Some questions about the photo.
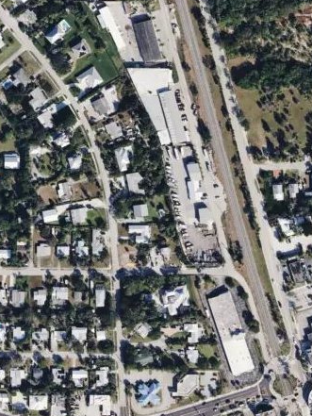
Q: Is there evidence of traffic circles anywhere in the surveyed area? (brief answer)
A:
Yes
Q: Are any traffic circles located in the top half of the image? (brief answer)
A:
No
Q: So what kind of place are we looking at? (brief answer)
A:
residential area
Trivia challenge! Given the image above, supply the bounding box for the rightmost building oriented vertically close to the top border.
[133,19,160,63]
